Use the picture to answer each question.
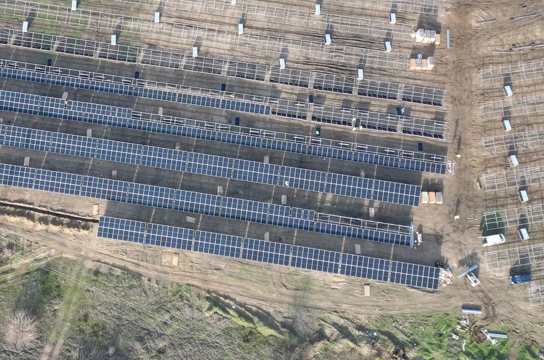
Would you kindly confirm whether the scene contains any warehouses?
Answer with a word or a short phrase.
No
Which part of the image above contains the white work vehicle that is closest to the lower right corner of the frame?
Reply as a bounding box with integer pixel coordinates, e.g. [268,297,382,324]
[463,269,481,288]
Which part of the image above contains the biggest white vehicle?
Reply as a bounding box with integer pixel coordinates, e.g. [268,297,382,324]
[478,232,507,245]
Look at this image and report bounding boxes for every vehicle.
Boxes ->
[508,273,533,284]
[463,269,481,288]
[478,232,507,245]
